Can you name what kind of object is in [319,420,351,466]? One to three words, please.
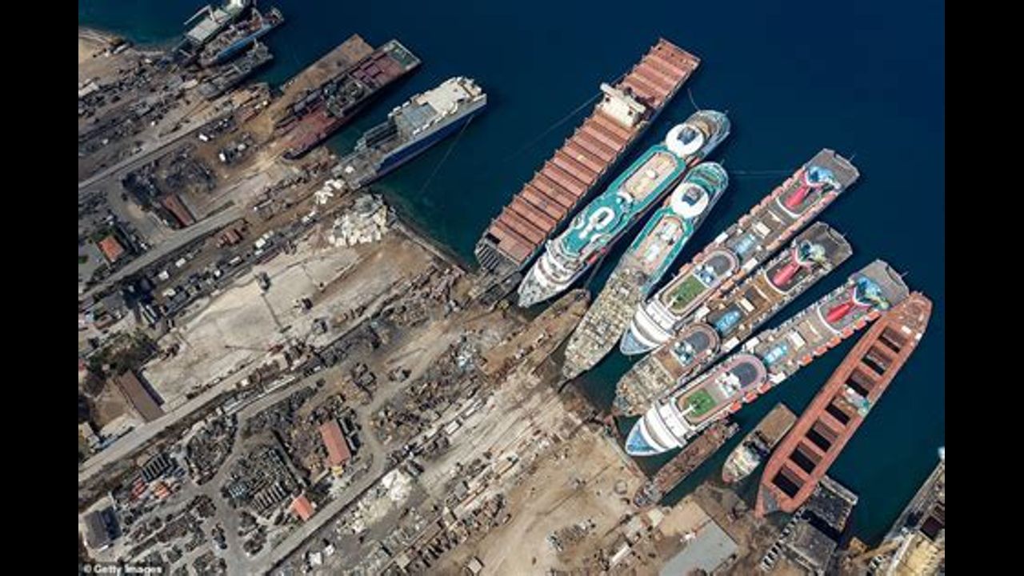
shed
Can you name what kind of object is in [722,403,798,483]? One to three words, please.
ship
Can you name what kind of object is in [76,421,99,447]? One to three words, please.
house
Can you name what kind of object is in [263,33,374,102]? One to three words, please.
ship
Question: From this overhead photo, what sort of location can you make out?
port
